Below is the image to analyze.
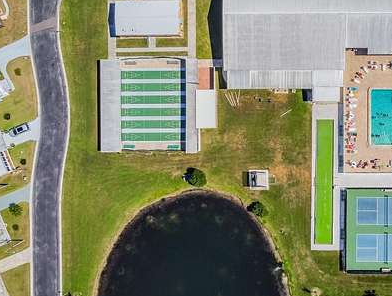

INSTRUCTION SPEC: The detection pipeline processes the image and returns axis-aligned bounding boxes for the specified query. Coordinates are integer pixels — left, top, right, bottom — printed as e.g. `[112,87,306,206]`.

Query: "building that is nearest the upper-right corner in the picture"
[222,0,392,103]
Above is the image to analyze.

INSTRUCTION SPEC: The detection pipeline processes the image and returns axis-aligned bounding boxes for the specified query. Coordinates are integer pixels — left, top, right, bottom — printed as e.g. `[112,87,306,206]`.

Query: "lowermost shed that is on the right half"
[250,171,271,190]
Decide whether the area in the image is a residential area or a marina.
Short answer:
residential area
